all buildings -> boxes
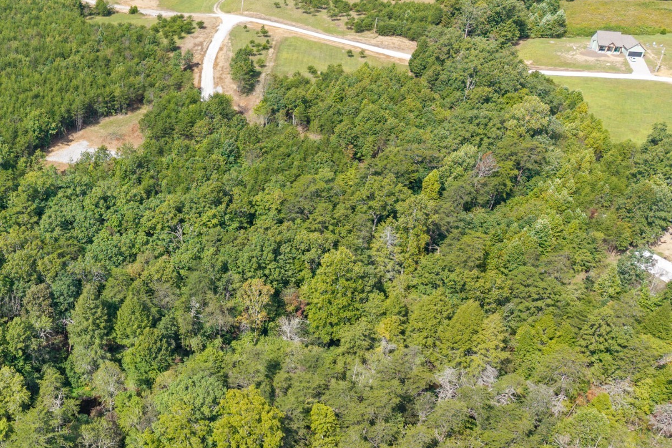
[632,251,672,285]
[592,31,646,59]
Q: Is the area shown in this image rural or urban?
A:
rural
